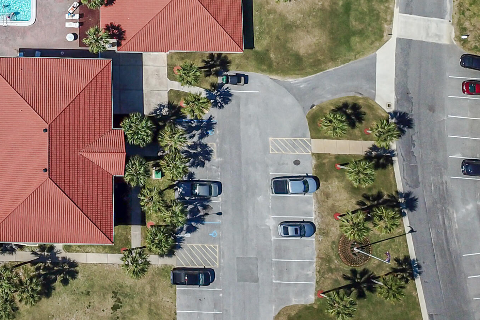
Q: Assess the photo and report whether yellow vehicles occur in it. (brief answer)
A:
No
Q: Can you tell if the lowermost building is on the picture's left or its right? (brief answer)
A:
left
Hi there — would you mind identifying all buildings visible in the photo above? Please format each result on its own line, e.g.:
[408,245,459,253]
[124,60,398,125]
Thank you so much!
[99,0,244,52]
[0,57,126,245]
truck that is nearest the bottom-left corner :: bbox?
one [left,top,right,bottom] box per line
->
[171,268,219,290]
